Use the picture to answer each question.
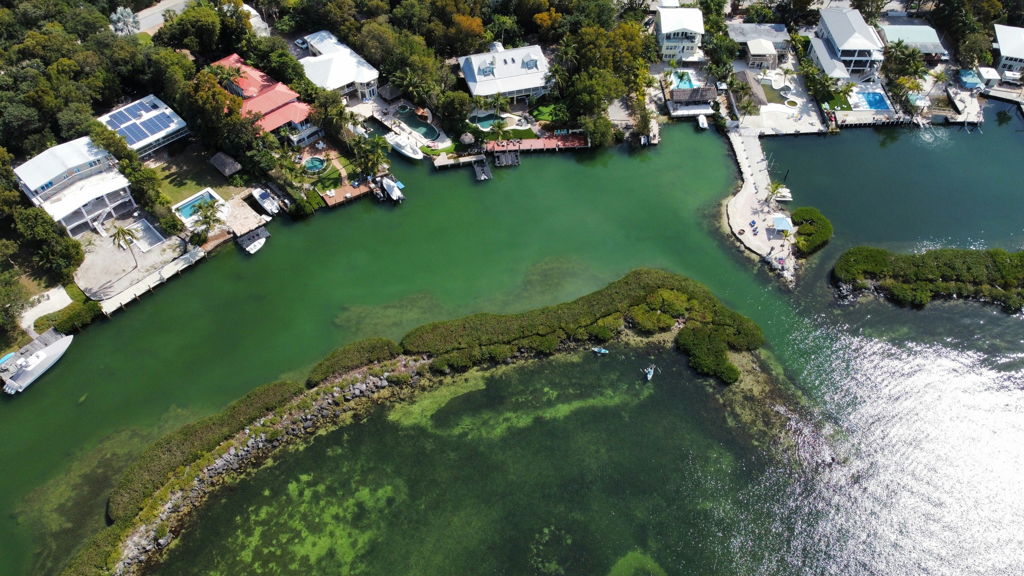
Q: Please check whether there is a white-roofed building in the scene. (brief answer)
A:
Yes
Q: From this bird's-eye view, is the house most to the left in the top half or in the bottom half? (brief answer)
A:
top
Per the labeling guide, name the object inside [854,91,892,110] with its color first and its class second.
blue swimming pool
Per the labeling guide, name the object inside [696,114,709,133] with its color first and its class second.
white boat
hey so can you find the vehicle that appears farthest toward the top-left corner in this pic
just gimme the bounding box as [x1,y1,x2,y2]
[291,38,309,51]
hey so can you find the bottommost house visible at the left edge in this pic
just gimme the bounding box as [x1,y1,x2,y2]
[14,136,137,238]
